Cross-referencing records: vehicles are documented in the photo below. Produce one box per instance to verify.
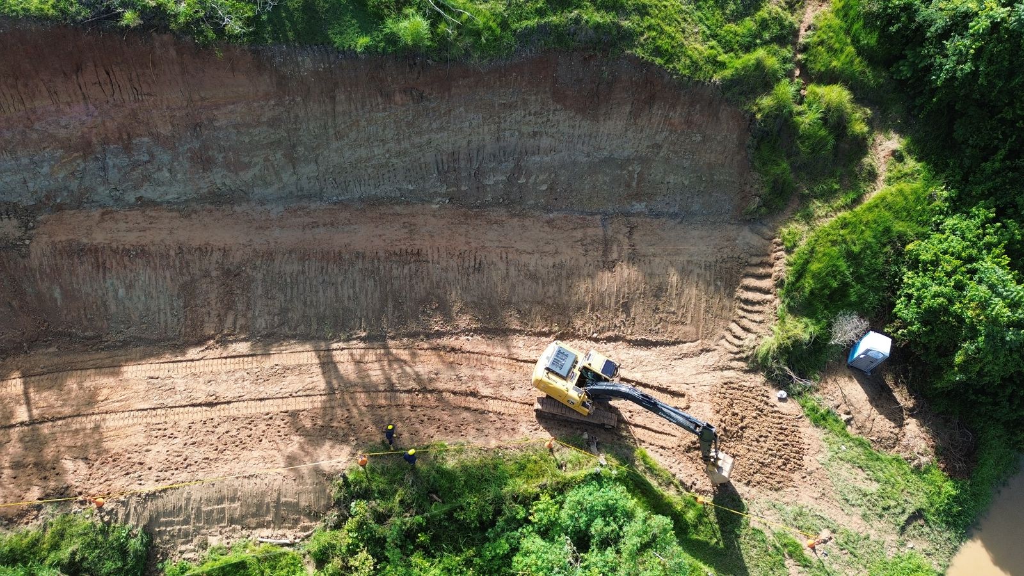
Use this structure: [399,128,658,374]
[531,343,734,487]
